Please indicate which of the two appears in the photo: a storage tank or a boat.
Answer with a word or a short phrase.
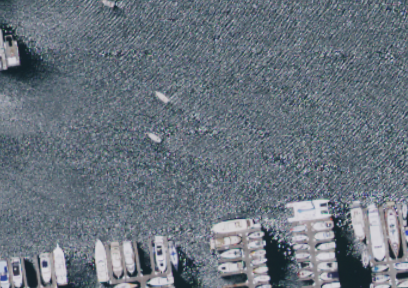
boat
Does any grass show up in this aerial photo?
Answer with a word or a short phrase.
No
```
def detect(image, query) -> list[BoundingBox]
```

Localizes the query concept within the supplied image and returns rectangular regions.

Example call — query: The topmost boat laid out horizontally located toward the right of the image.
[286,198,332,221]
